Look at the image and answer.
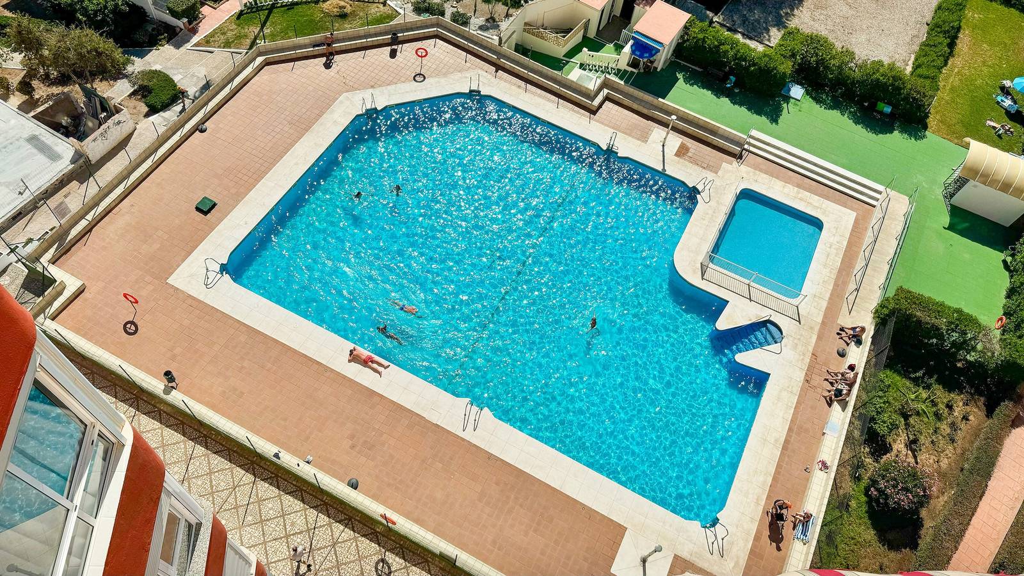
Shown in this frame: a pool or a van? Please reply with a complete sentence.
Looking from above, you can make out a pool.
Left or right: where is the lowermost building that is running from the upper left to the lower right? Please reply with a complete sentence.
The lowermost building that is running from the upper left to the lower right is on the left side of the image.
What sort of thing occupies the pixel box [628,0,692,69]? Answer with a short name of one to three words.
building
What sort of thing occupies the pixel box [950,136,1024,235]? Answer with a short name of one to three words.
building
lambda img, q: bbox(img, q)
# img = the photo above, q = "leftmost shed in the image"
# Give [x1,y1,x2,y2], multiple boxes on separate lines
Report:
[0,100,92,250]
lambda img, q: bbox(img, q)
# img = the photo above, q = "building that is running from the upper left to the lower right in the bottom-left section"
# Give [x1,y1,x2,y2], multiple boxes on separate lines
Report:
[0,295,277,576]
